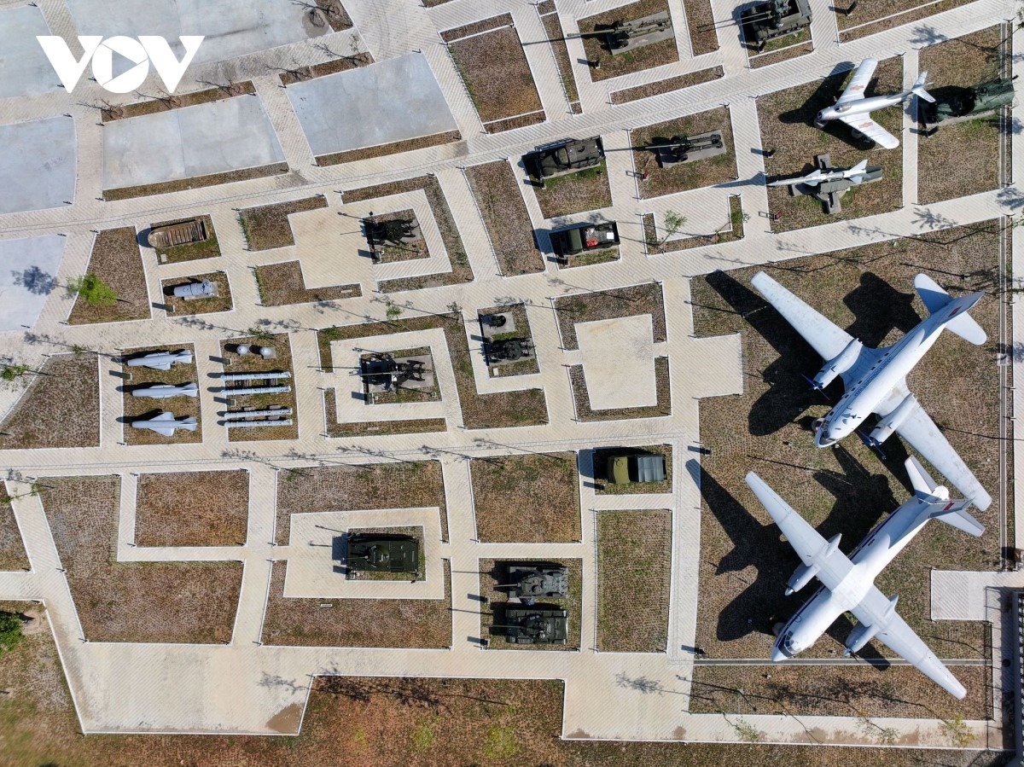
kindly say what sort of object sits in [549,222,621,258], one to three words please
truck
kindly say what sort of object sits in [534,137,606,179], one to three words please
vehicle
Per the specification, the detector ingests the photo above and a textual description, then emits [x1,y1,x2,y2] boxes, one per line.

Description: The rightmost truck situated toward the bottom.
[595,456,664,481]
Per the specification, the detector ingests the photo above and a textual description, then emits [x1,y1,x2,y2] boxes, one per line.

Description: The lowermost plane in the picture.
[745,457,987,695]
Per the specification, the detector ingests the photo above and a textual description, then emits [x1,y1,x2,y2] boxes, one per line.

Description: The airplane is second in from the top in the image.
[755,271,993,507]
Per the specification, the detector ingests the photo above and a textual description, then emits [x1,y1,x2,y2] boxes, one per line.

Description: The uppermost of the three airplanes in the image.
[817,55,938,152]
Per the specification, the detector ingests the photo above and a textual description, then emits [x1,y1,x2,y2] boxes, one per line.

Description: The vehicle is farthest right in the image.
[918,70,1023,124]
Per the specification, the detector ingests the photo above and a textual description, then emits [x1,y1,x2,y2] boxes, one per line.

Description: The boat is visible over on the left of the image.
[148,217,213,245]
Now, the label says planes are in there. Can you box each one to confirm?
[745,457,987,695]
[755,271,993,507]
[817,55,938,152]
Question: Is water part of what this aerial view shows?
No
